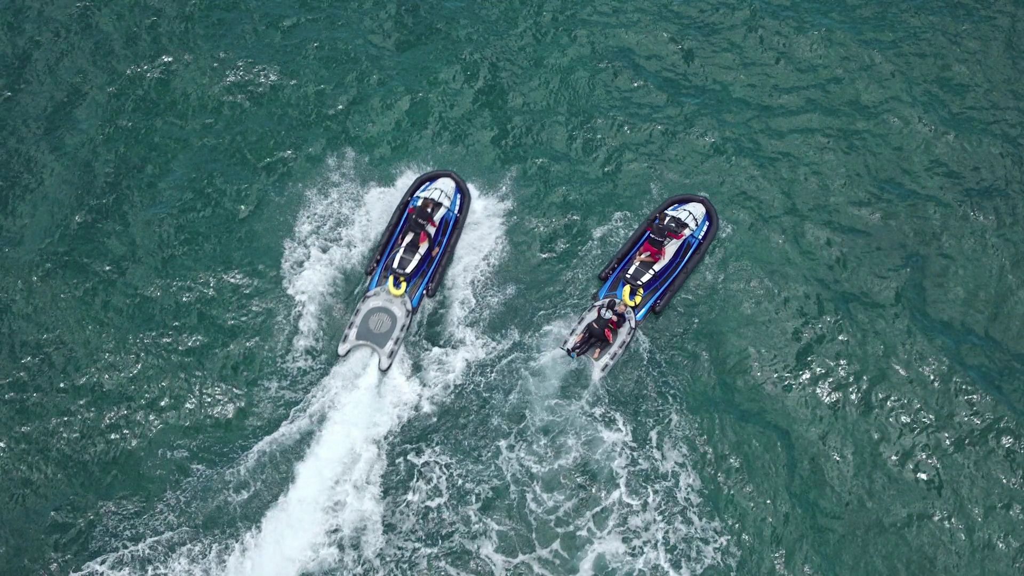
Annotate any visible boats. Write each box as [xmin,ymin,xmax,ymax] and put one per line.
[362,172,468,315]
[601,194,715,323]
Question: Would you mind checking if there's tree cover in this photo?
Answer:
No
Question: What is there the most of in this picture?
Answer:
water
